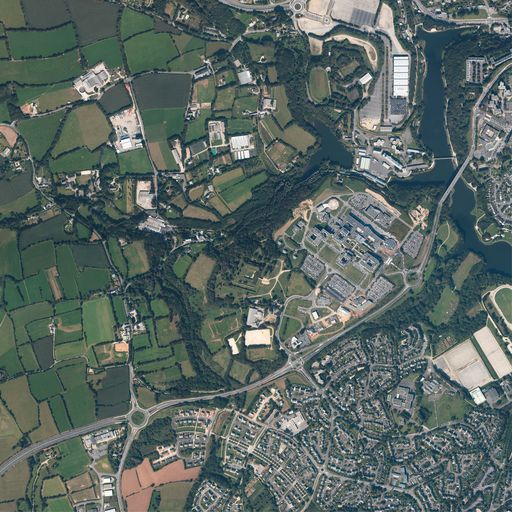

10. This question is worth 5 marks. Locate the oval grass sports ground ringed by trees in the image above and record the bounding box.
[310,66,330,104]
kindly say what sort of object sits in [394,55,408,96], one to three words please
building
